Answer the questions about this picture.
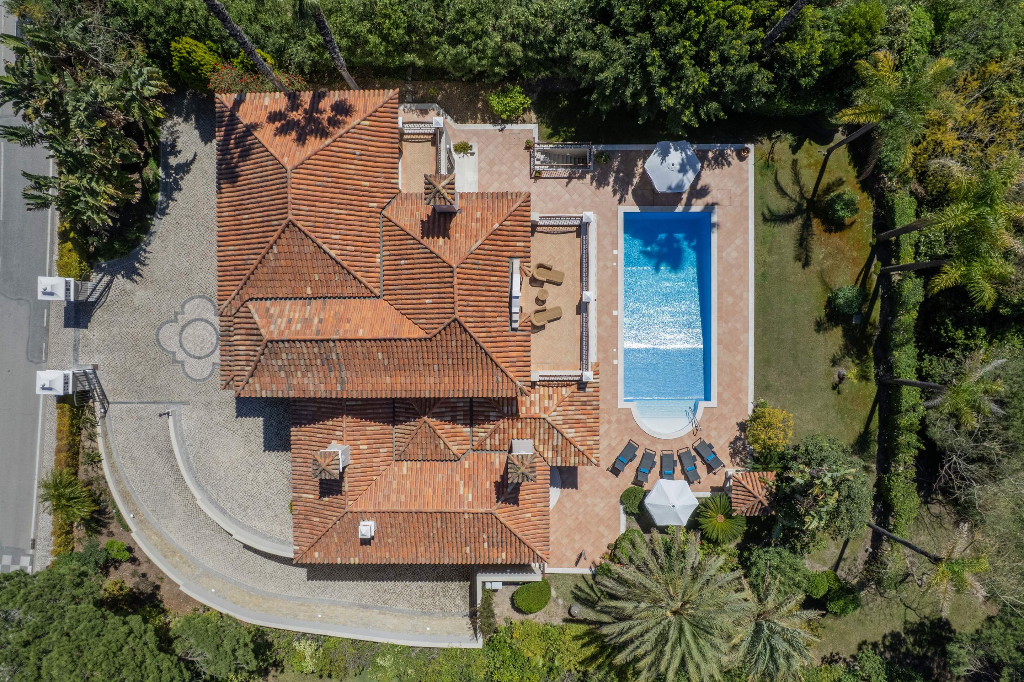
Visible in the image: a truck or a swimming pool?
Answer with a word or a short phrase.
swimming pool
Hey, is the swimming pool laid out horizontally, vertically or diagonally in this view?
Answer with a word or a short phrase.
vertically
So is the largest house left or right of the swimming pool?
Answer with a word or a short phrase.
to its left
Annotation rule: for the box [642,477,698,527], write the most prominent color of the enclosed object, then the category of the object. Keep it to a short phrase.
white umbrella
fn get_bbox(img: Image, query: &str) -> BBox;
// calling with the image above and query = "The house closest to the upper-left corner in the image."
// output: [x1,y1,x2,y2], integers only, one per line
[211,85,603,567]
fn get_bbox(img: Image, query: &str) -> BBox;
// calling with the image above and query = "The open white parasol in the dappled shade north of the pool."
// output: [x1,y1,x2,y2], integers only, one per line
[641,143,698,193]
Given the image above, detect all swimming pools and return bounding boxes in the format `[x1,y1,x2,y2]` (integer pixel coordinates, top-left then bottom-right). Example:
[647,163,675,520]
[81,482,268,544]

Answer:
[618,206,717,439]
